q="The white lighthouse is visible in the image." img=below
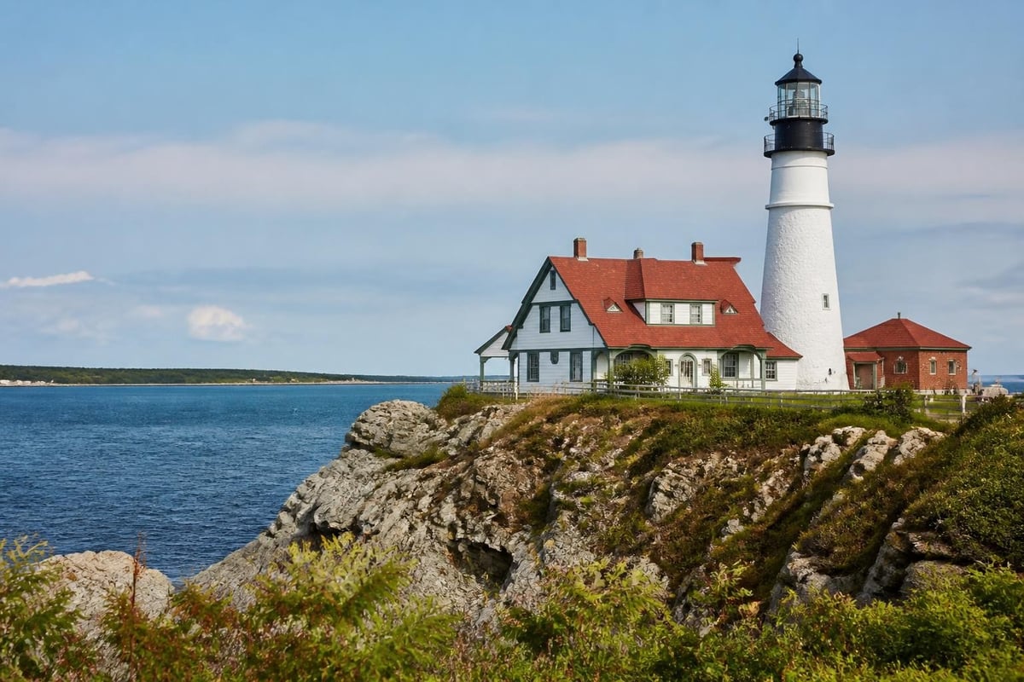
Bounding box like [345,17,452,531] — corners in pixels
[760,48,844,390]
